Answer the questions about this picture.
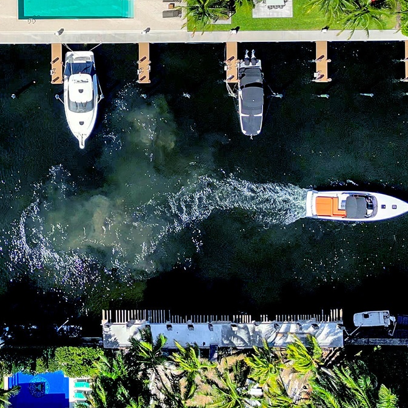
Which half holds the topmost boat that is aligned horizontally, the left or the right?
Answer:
right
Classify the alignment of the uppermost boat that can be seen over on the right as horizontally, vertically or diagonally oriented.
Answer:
vertically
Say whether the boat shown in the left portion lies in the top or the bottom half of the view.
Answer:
top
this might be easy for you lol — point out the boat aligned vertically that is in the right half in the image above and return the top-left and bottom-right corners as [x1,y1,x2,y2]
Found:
[238,48,265,139]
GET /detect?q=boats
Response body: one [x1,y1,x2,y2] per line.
[303,191,408,220]
[238,48,265,139]
[352,310,400,327]
[64,51,100,149]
